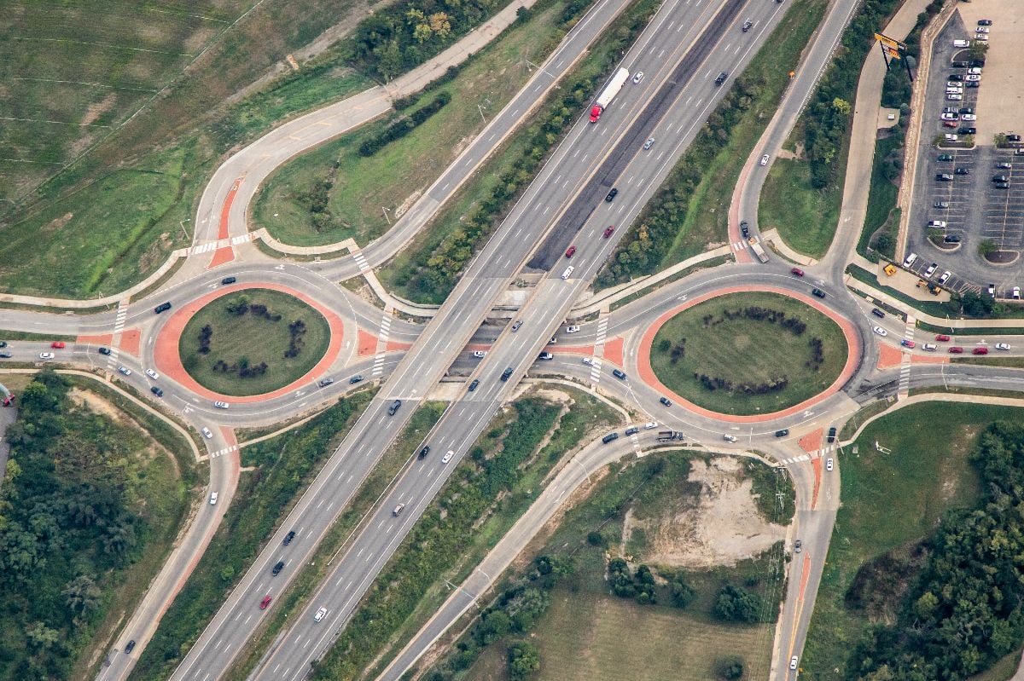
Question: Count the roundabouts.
two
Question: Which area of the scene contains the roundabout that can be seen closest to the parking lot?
right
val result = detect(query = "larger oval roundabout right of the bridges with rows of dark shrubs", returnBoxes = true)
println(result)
[624,262,877,445]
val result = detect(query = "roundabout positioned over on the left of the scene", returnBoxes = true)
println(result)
[139,260,357,429]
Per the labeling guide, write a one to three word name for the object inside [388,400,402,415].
vehicle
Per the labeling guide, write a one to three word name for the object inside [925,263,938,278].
vehicle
